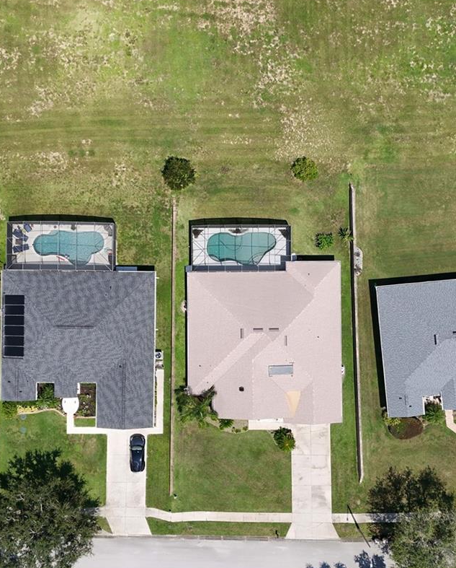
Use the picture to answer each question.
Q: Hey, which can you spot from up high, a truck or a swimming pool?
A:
swimming pool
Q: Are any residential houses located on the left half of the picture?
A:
Yes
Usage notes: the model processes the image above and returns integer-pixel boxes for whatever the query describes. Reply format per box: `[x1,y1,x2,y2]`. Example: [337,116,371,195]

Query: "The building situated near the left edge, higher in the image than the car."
[1,269,158,432]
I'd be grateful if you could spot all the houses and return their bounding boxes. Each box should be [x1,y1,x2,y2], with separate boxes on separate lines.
[186,261,342,426]
[1,269,158,432]
[375,278,456,417]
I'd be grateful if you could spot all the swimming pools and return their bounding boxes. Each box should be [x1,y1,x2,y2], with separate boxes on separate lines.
[30,228,107,269]
[205,230,278,268]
